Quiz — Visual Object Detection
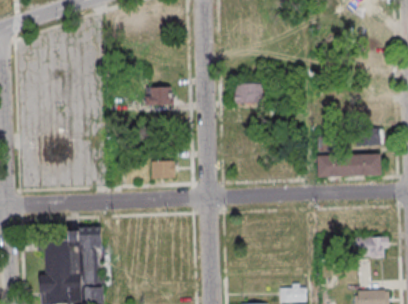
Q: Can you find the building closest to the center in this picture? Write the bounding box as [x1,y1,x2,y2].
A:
[152,162,178,180]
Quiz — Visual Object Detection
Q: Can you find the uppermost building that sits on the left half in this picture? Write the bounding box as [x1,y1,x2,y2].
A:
[145,88,173,106]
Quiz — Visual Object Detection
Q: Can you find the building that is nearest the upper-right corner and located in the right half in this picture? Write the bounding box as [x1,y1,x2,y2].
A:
[354,130,386,150]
